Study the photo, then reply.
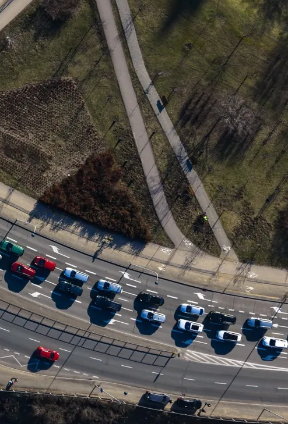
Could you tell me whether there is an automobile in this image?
Yes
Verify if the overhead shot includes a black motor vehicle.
Yes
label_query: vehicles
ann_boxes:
[140,308,167,325]
[179,302,205,317]
[10,260,36,280]
[176,317,205,334]
[246,315,273,330]
[145,391,171,406]
[96,278,123,294]
[262,335,288,350]
[137,292,164,307]
[32,255,57,273]
[63,266,90,284]
[207,310,238,326]
[215,329,242,343]
[176,397,201,411]
[0,238,25,258]
[34,347,59,361]
[93,294,122,314]
[57,278,84,297]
